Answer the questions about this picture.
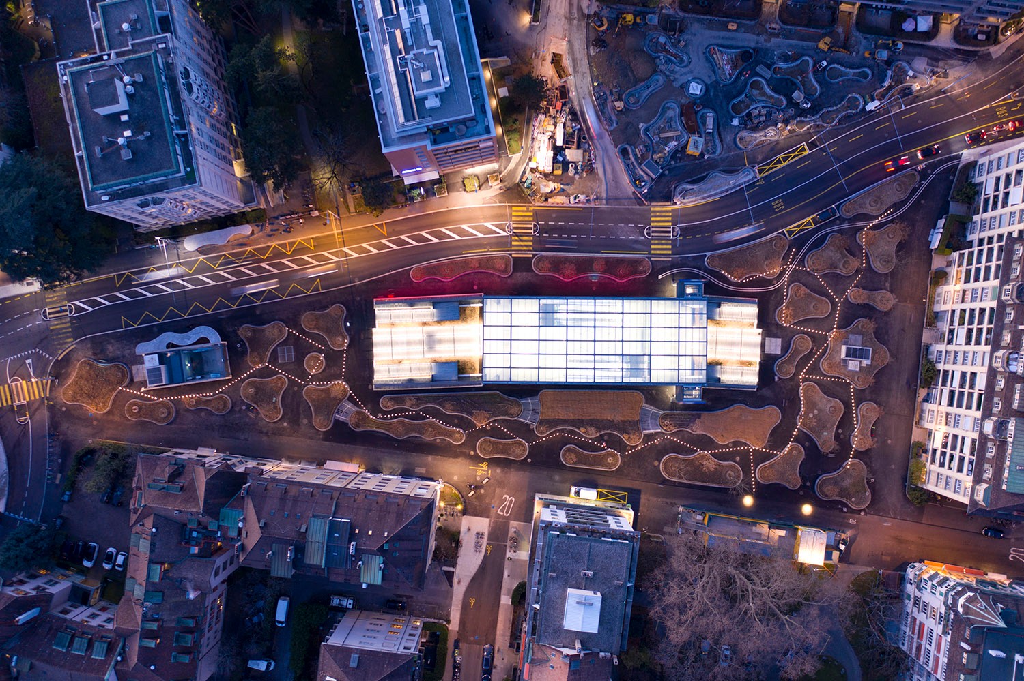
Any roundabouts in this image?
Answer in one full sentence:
No, the frame has no roundabout in it.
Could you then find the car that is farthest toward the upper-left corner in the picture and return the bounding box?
[148,266,174,280]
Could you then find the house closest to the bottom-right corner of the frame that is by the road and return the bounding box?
[895,559,1024,681]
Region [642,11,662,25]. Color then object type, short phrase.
blue vehicle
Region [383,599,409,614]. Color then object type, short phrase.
black car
